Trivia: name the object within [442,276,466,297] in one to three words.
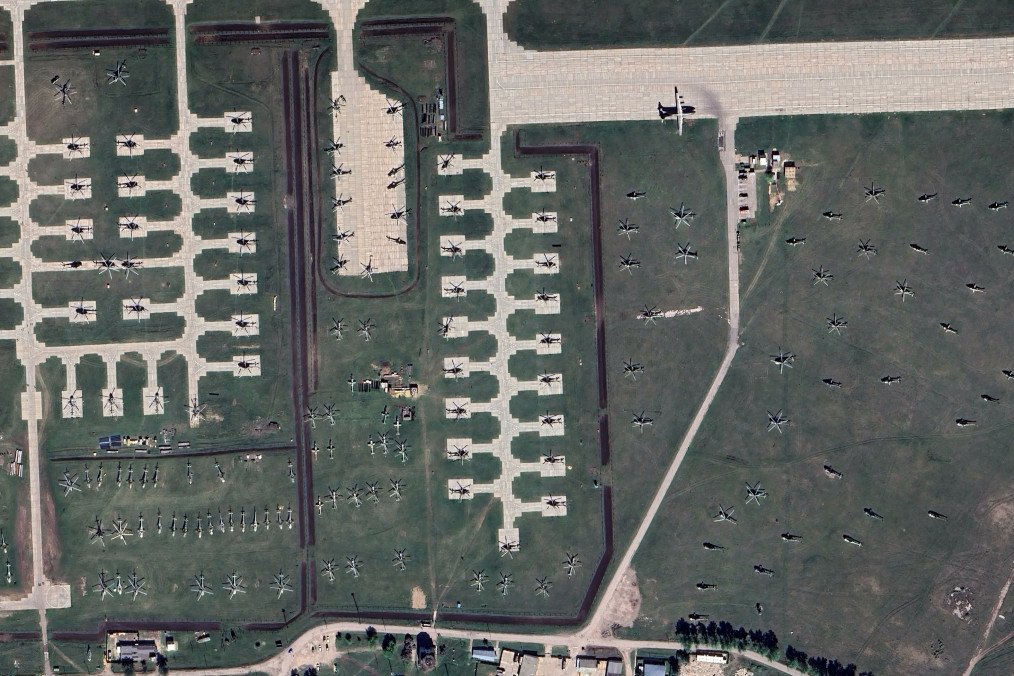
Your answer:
helipad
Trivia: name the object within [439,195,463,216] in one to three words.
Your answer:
helipad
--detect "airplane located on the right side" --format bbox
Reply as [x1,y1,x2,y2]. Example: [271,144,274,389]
[660,93,696,135]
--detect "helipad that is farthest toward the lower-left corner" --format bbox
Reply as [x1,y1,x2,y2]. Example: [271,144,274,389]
[46,585,70,608]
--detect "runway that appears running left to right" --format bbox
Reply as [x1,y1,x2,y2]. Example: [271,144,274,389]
[504,38,1014,126]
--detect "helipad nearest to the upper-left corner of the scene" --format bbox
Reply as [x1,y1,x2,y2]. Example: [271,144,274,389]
[63,137,90,158]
